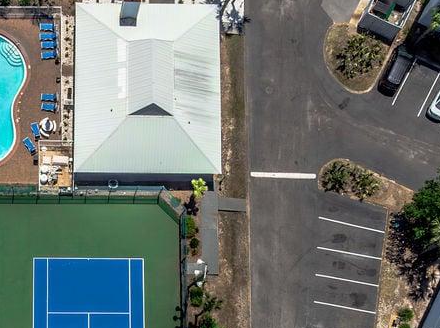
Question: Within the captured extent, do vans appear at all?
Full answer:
Yes, this view includes a van.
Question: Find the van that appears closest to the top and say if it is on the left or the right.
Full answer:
You can find the van that appears closest to the top on the right side of the picture.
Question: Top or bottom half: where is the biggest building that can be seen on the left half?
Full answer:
It is in the top half that the biggest building that can be seen on the left half appears.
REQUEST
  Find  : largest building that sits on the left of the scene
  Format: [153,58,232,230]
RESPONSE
[74,2,222,176]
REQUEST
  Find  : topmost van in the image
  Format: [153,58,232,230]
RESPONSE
[377,50,413,97]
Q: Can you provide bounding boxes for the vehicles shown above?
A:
[377,50,413,97]
[427,84,440,120]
